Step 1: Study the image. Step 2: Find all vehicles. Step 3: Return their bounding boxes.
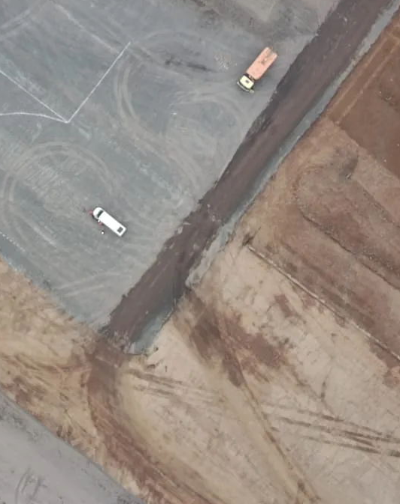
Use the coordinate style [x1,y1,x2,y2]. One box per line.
[93,209,127,237]
[236,46,277,91]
